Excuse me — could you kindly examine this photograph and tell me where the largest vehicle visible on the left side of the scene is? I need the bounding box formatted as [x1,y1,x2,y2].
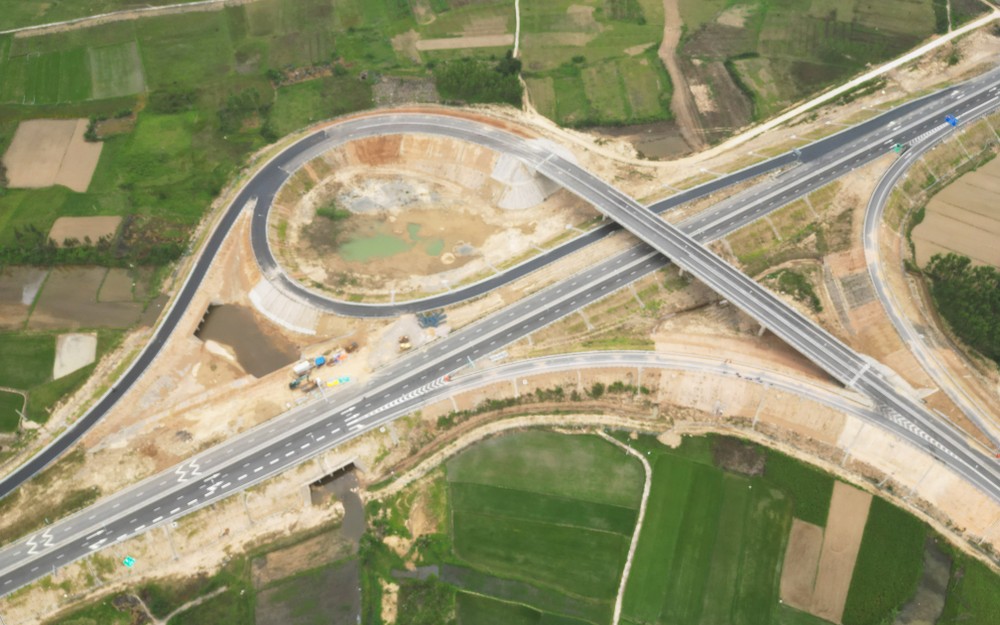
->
[294,354,324,374]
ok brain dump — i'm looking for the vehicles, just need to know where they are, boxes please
[400,335,409,348]
[287,373,312,391]
[294,354,324,374]
[337,353,349,361]
[347,342,359,353]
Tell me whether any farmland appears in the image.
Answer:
Yes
